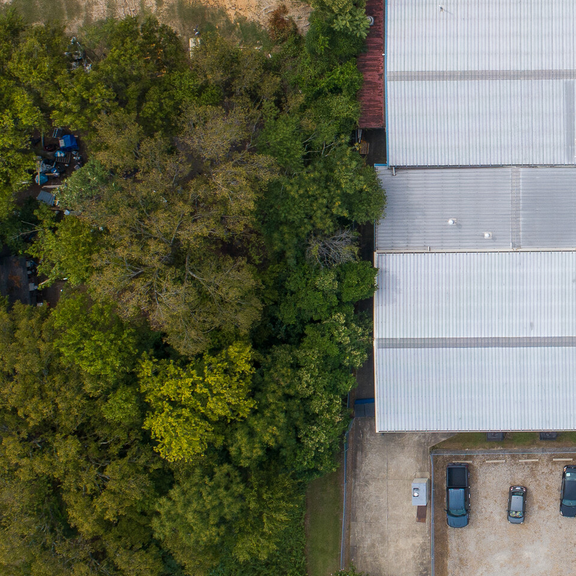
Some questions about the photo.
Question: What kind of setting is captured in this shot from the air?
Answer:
industrial area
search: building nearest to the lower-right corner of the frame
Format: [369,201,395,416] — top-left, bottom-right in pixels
[372,249,576,435]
